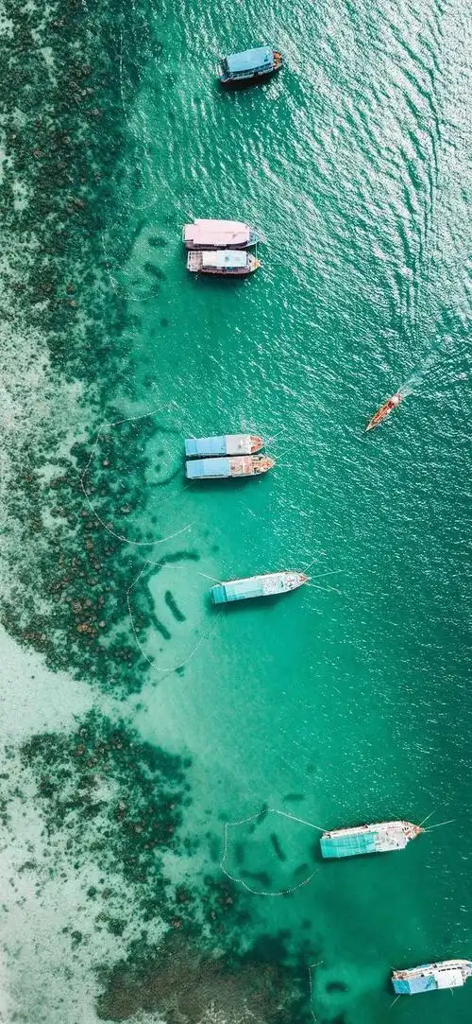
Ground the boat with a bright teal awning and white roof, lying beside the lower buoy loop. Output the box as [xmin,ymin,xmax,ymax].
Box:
[304,812,456,860]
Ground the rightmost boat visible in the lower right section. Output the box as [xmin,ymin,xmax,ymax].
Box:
[387,955,472,1008]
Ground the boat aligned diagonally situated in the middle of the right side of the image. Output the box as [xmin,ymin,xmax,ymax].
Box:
[367,384,409,431]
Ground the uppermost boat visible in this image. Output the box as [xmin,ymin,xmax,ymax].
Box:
[218,51,290,89]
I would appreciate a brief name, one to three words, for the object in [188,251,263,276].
boat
